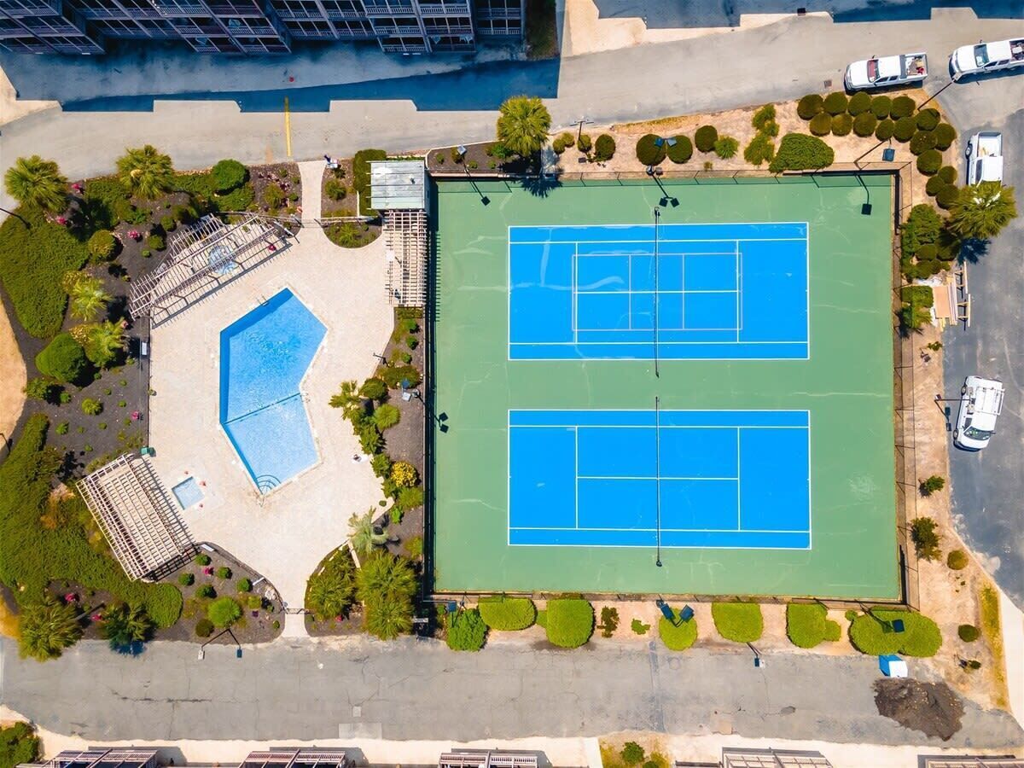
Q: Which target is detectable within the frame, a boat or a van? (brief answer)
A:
van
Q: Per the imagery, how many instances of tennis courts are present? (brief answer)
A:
3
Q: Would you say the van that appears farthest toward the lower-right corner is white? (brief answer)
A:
Yes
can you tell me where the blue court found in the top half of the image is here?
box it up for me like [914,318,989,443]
[509,222,809,360]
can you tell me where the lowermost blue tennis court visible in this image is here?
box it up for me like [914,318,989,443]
[509,409,812,549]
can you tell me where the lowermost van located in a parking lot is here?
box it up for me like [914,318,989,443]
[955,376,1006,449]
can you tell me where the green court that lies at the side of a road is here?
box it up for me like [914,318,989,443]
[433,174,901,600]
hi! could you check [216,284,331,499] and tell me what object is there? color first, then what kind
blue swimming pool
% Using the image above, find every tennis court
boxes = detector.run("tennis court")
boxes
[509,409,812,549]
[509,222,809,360]
[433,174,901,600]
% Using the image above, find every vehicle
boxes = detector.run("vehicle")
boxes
[947,40,1024,80]
[844,54,927,93]
[966,133,1005,192]
[955,376,1006,449]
